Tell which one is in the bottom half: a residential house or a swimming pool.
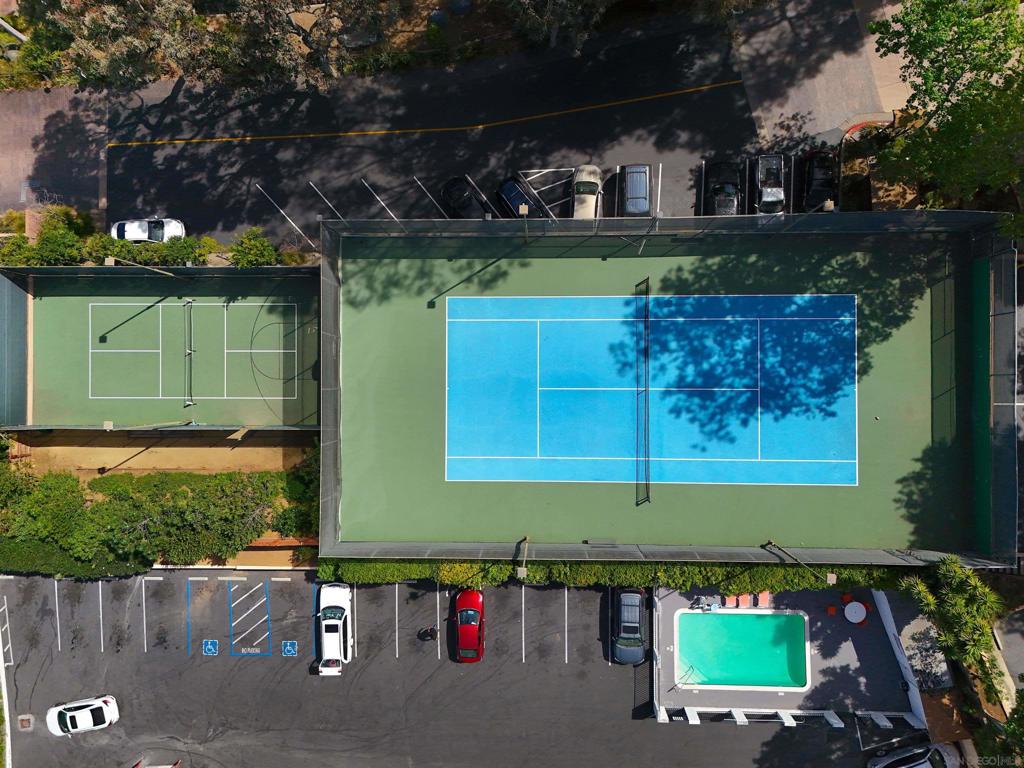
swimming pool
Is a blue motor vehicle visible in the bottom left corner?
No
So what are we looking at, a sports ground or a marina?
sports ground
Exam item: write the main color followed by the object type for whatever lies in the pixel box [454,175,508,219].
black car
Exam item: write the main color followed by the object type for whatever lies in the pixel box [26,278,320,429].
green sports court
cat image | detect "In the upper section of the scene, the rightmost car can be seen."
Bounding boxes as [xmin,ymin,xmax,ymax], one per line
[799,147,842,218]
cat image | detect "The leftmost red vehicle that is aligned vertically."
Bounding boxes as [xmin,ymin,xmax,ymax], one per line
[453,588,486,662]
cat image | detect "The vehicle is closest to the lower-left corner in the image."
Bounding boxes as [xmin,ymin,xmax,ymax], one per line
[49,693,122,738]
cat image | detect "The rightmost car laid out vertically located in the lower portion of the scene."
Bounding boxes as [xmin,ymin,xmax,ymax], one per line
[612,586,648,665]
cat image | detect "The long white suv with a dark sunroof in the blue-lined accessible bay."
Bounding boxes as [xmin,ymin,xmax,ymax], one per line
[314,583,352,673]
